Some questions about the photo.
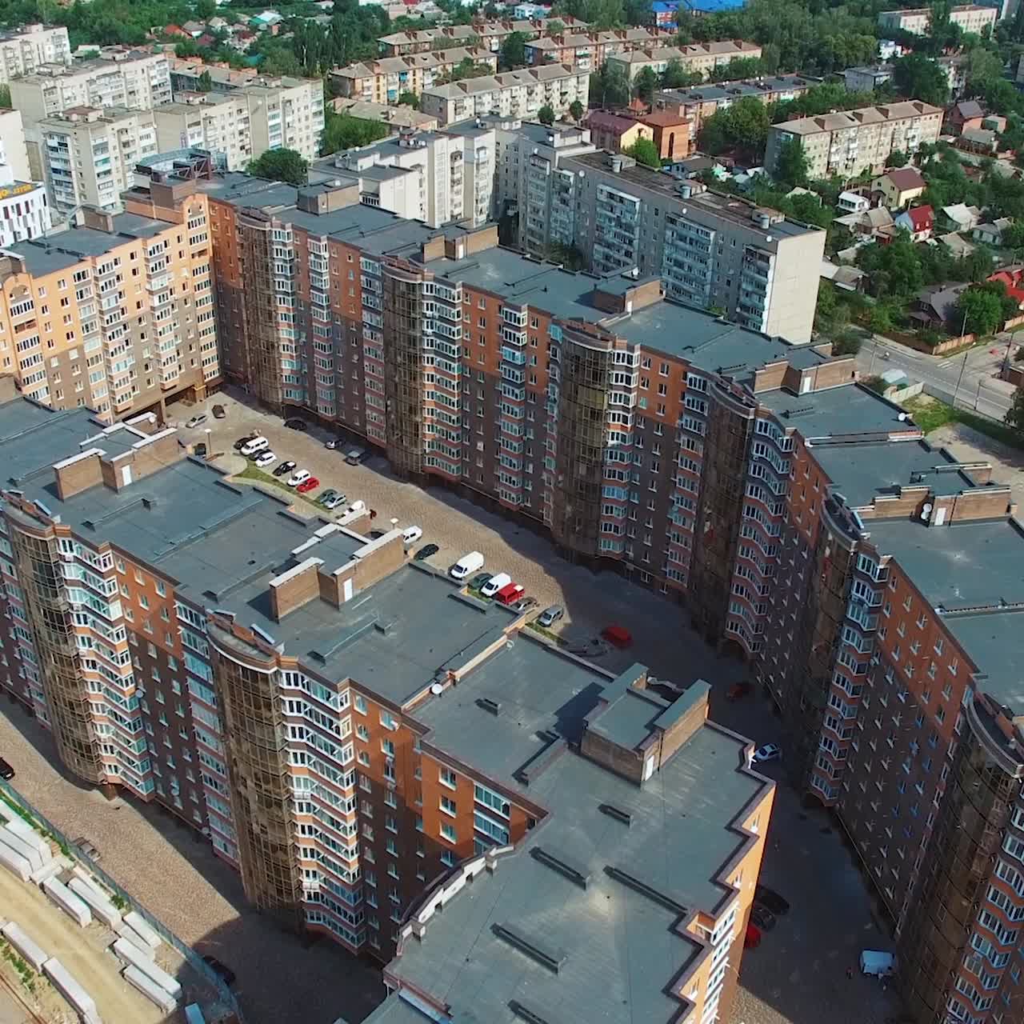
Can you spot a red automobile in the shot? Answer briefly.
Yes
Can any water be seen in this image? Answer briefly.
No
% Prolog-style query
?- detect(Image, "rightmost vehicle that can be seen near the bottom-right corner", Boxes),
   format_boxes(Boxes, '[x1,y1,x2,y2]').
[848,942,907,976]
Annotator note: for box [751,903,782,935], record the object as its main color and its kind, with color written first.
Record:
black car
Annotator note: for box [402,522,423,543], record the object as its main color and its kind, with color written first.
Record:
white car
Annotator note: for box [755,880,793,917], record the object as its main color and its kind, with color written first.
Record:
black car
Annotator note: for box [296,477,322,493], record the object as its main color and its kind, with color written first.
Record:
red car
